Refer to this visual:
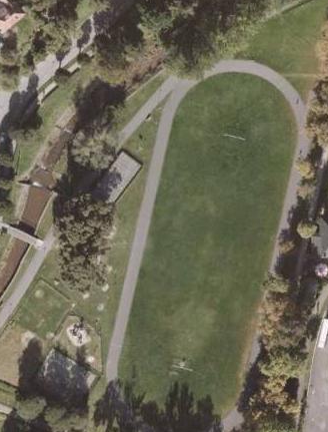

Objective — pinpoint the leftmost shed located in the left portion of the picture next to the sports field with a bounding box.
[94,152,142,203]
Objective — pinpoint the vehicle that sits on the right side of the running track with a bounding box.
[315,319,328,348]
